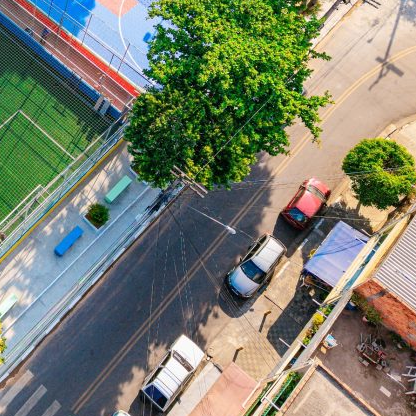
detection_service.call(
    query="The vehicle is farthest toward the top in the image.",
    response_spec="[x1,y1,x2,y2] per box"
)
[285,175,339,234]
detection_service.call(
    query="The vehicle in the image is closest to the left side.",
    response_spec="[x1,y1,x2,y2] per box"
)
[141,335,209,416]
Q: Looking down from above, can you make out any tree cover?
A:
Yes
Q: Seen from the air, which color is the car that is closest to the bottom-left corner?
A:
white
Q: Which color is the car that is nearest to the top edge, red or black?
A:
red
